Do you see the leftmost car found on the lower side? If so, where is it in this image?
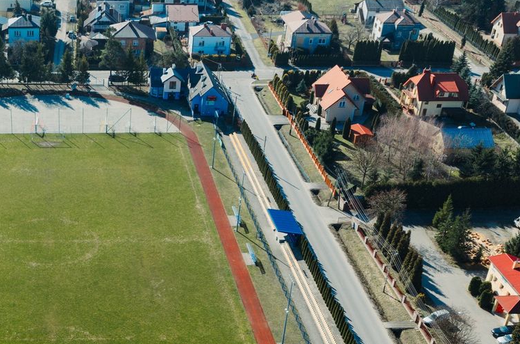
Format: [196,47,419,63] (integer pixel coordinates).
[425,310,449,325]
